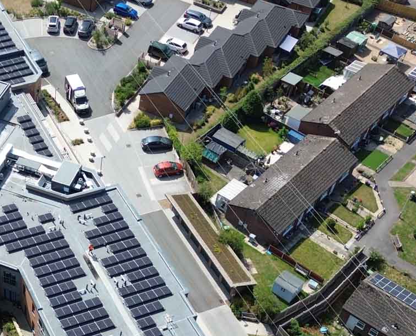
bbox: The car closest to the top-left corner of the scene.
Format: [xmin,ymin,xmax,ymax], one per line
[48,14,60,33]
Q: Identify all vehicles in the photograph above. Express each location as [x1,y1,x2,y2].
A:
[160,38,188,54]
[146,42,175,61]
[185,11,211,28]
[154,164,184,178]
[141,138,173,154]
[80,19,94,36]
[67,73,91,112]
[176,19,205,35]
[64,14,77,33]
[114,6,137,19]
[31,50,49,72]
[48,14,60,33]
[132,0,153,7]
